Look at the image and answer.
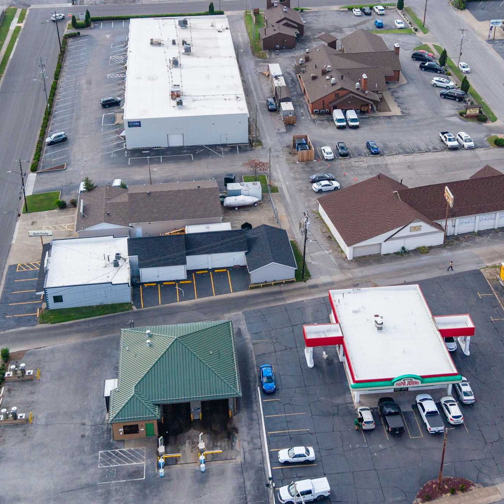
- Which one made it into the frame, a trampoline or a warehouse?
warehouse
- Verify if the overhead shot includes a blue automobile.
Yes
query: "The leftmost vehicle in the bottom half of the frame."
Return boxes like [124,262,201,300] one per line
[258,364,276,392]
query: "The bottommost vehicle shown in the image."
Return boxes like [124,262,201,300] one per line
[276,478,333,504]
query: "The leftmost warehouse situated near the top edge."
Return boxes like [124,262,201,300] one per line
[118,15,248,150]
